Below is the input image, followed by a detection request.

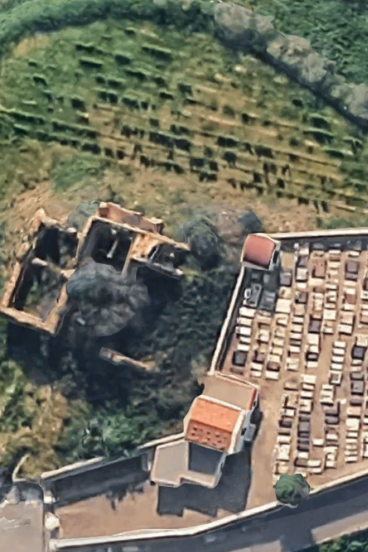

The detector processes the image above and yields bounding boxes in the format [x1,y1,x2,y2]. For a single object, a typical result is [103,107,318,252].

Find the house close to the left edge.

[0,209,100,335]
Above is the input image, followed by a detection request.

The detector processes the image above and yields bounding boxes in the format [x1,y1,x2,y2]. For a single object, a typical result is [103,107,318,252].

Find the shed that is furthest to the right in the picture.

[241,233,284,270]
